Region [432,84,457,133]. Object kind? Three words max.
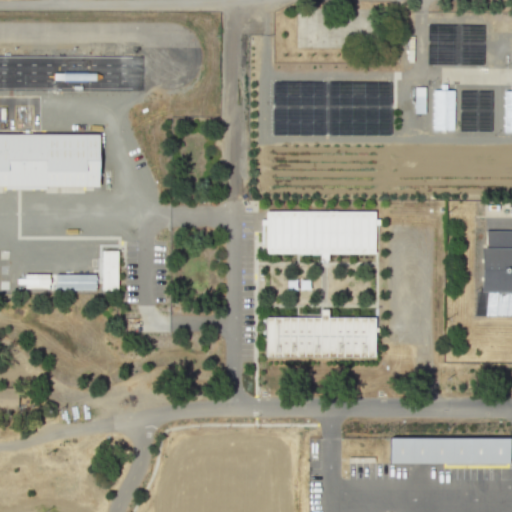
greenhouse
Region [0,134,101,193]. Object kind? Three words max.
hangar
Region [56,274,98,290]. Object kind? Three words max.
building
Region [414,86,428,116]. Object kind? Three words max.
shed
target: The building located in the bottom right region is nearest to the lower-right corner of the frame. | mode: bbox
[392,438,512,469]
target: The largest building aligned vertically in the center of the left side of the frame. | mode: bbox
[103,250,120,292]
